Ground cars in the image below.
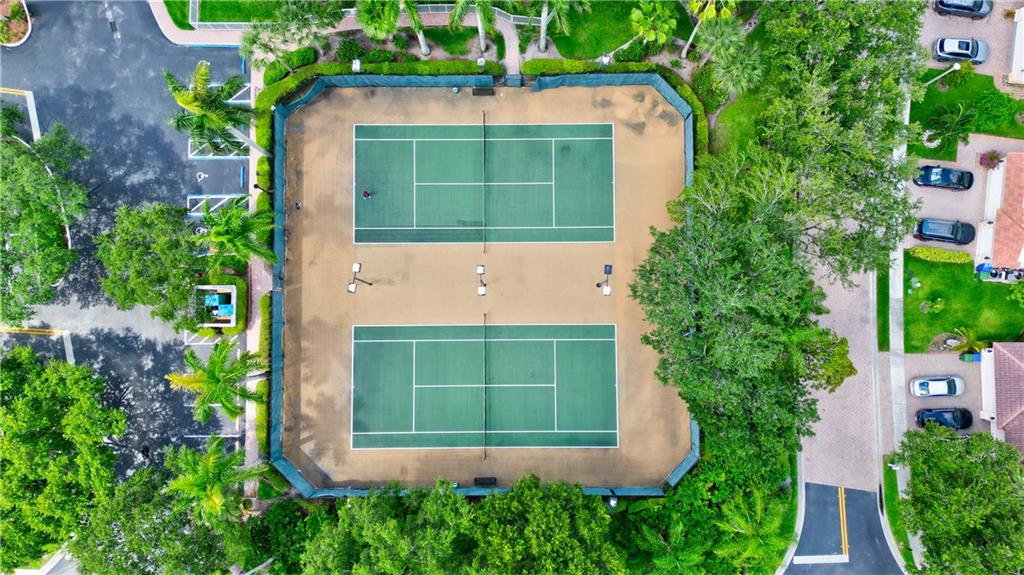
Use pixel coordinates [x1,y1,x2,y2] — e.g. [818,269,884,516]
[908,373,965,399]
[915,405,972,433]
[912,163,974,191]
[931,0,992,21]
[930,37,987,63]
[913,218,974,245]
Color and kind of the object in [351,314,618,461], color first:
green tennis court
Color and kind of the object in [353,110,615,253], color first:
green tennis court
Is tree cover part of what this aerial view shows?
Yes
